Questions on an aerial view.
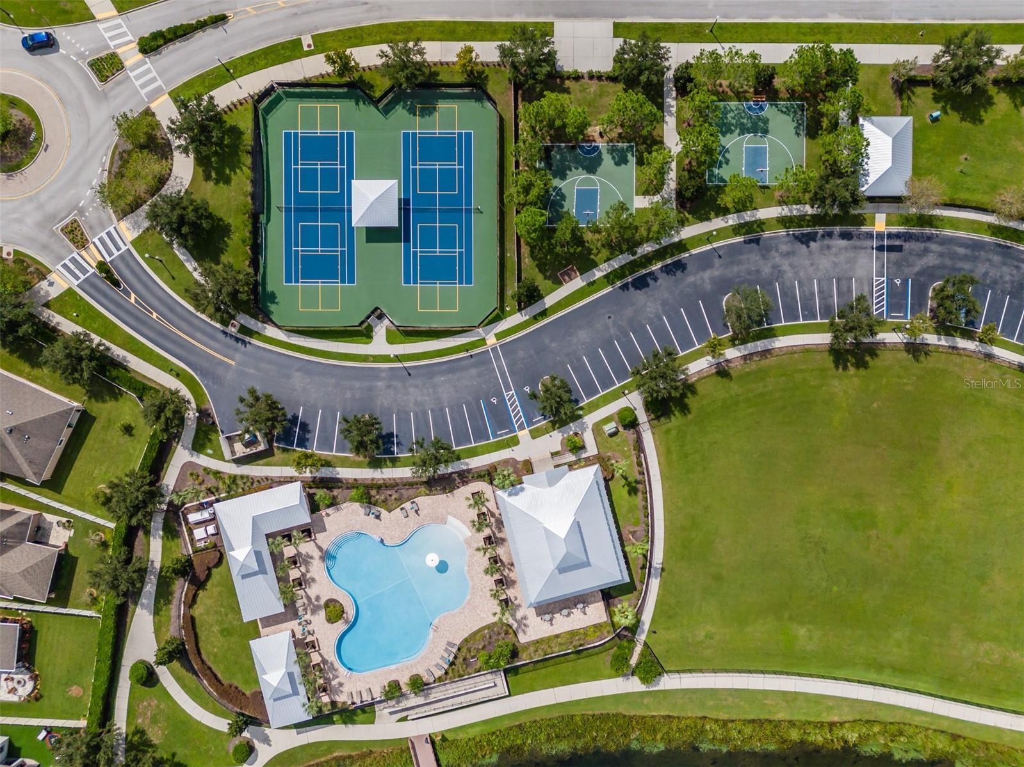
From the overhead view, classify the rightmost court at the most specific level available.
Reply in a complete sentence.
The rightmost court can be classified as a basketball court.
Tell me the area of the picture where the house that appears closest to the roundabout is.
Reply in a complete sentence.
Look in the left portion of the view to spot the house that appears closest to the roundabout.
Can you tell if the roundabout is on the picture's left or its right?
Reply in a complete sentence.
It is on the left.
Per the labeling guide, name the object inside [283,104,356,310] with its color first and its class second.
blue tennis court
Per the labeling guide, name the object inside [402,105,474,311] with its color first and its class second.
blue tennis court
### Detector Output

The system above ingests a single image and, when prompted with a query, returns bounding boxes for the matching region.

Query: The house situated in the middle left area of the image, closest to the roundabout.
[0,368,85,485]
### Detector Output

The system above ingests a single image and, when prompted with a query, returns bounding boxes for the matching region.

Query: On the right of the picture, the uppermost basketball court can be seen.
[706,102,805,184]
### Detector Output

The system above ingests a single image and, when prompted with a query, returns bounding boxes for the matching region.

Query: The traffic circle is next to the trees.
[0,33,106,234]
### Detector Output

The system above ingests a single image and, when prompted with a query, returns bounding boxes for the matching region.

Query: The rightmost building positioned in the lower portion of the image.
[496,464,630,608]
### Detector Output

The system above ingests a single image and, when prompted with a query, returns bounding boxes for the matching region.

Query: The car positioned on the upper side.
[21,31,54,50]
